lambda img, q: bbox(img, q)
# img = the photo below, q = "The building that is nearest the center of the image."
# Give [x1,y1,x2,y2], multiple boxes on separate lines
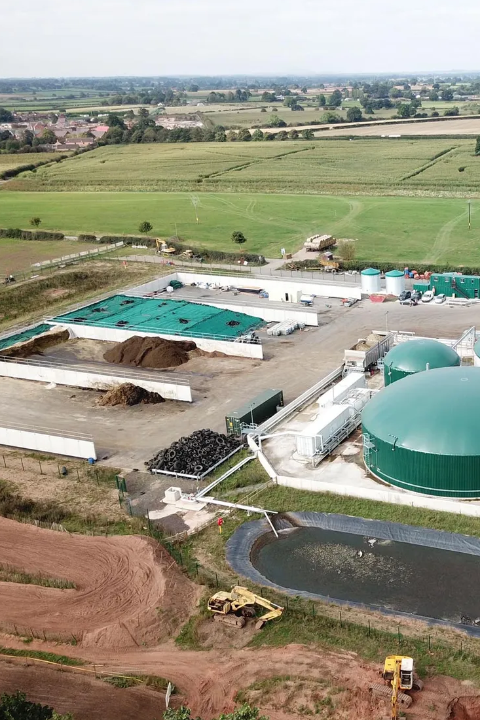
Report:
[270,282,304,303]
